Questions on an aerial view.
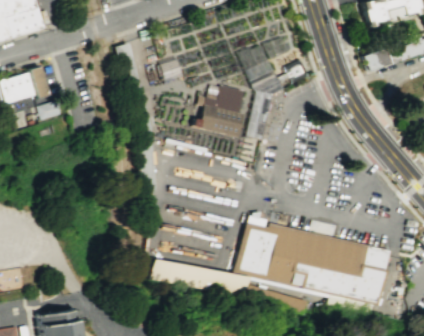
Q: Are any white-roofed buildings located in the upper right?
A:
Yes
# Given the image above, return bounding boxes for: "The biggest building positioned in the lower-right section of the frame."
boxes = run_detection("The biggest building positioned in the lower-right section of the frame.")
[229,223,391,302]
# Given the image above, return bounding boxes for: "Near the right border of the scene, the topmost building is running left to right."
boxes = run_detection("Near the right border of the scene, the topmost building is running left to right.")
[360,0,424,27]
